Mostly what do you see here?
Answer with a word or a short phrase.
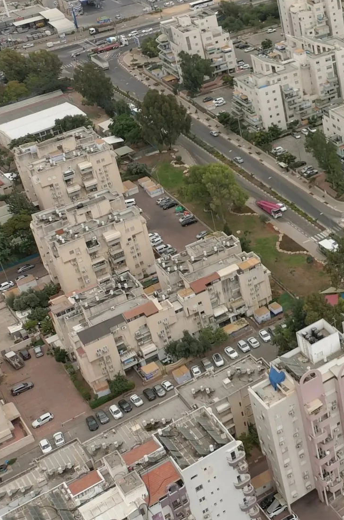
buildings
